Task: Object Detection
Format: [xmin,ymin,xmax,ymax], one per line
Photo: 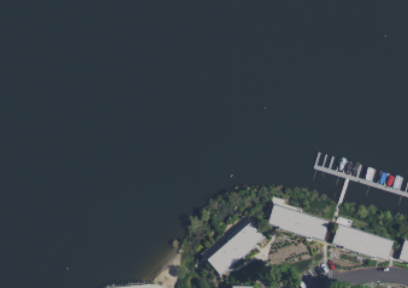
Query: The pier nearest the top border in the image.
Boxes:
[314,152,408,196]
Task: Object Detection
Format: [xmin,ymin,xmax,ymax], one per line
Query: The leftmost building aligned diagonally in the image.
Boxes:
[208,222,263,276]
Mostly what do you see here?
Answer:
water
